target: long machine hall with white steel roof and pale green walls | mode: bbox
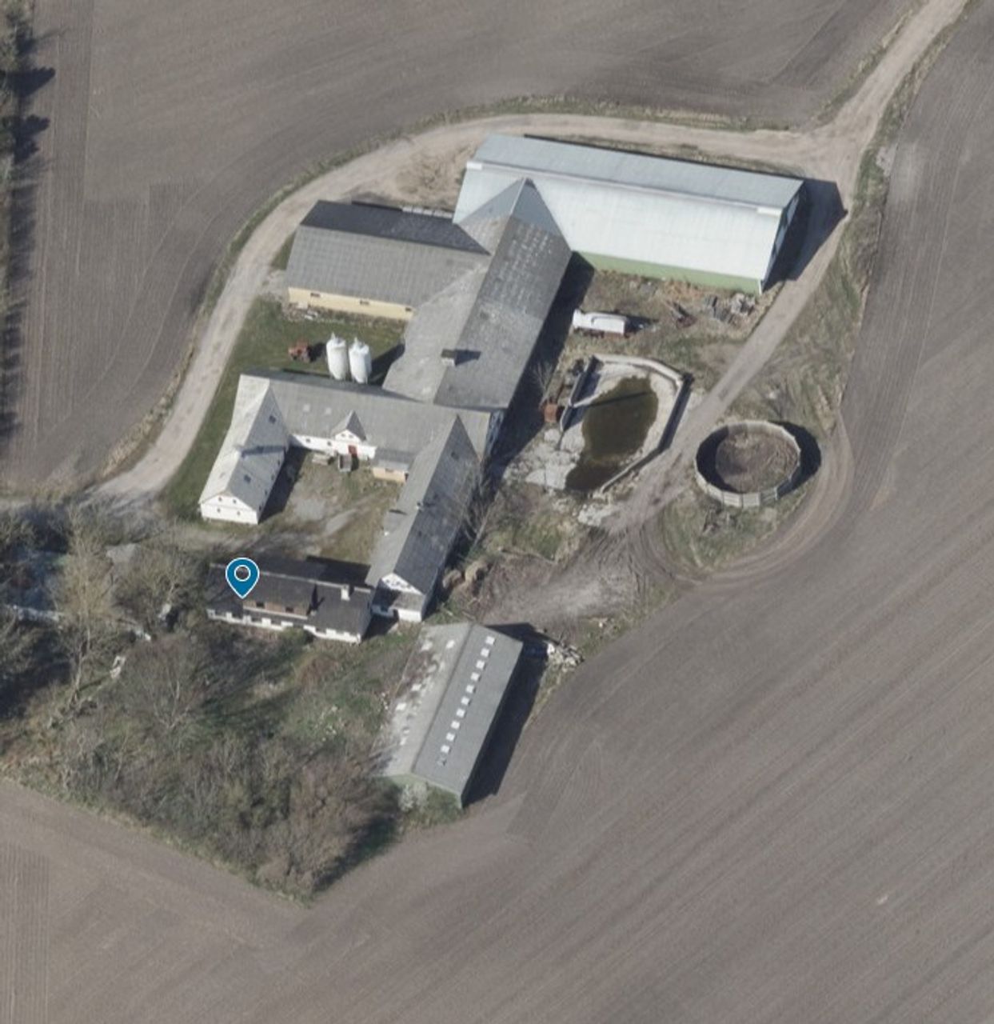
[455,136,801,293]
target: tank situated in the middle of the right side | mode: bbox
[696,420,801,506]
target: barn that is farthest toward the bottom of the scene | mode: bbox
[364,624,525,806]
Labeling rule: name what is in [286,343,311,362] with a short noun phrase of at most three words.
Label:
work vehicle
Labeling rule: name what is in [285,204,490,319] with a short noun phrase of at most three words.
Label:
barn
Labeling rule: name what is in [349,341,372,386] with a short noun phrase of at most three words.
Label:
silo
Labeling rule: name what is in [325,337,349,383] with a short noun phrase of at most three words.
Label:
silo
